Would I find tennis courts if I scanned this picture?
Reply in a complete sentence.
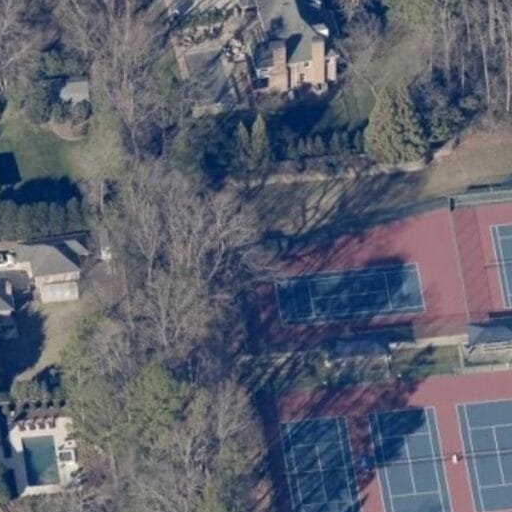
Yes, a tennis court can be made out from above.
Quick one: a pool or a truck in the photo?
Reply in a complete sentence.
There is a pool in the scene.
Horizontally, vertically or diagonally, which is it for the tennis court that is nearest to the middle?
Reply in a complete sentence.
In this picture, the tennis court that is nearest to the middle is oriented horizontally.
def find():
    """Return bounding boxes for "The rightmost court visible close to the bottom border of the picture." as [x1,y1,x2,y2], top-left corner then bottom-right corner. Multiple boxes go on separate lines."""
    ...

[456,399,512,512]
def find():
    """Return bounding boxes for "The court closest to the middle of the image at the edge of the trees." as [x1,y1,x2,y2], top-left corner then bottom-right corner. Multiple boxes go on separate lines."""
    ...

[275,263,425,328]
